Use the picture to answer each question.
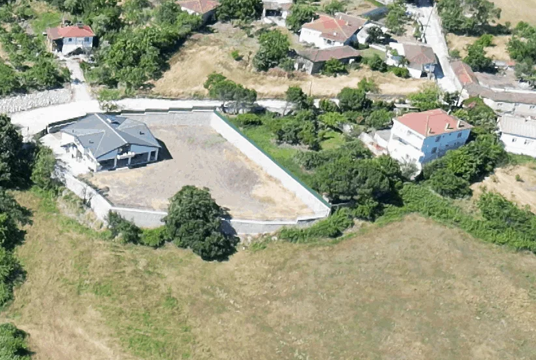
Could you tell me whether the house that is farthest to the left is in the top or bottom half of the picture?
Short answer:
top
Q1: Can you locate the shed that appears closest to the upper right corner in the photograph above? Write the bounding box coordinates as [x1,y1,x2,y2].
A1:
[490,50,523,73]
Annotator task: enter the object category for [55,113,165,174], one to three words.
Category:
house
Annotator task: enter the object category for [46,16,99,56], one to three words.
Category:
house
